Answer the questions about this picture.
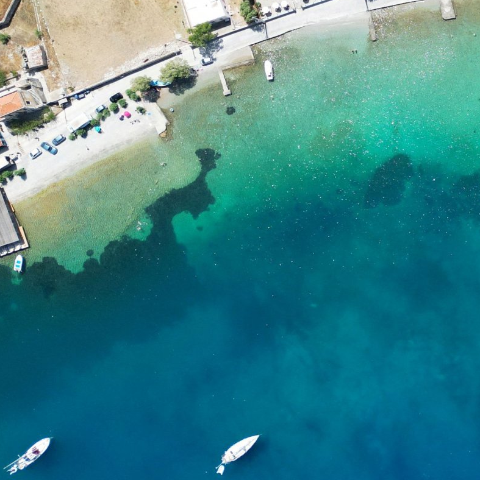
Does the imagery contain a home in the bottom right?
No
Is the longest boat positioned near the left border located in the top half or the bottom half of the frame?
bottom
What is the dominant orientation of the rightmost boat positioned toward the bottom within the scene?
at an angle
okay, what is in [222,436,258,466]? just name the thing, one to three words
boat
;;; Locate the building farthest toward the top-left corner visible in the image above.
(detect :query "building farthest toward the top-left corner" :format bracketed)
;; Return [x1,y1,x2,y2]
[24,45,51,69]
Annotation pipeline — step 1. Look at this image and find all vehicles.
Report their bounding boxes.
[50,133,66,145]
[106,92,123,102]
[62,112,92,133]
[199,56,214,66]
[38,141,57,154]
[0,151,18,169]
[27,148,42,160]
[92,102,107,114]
